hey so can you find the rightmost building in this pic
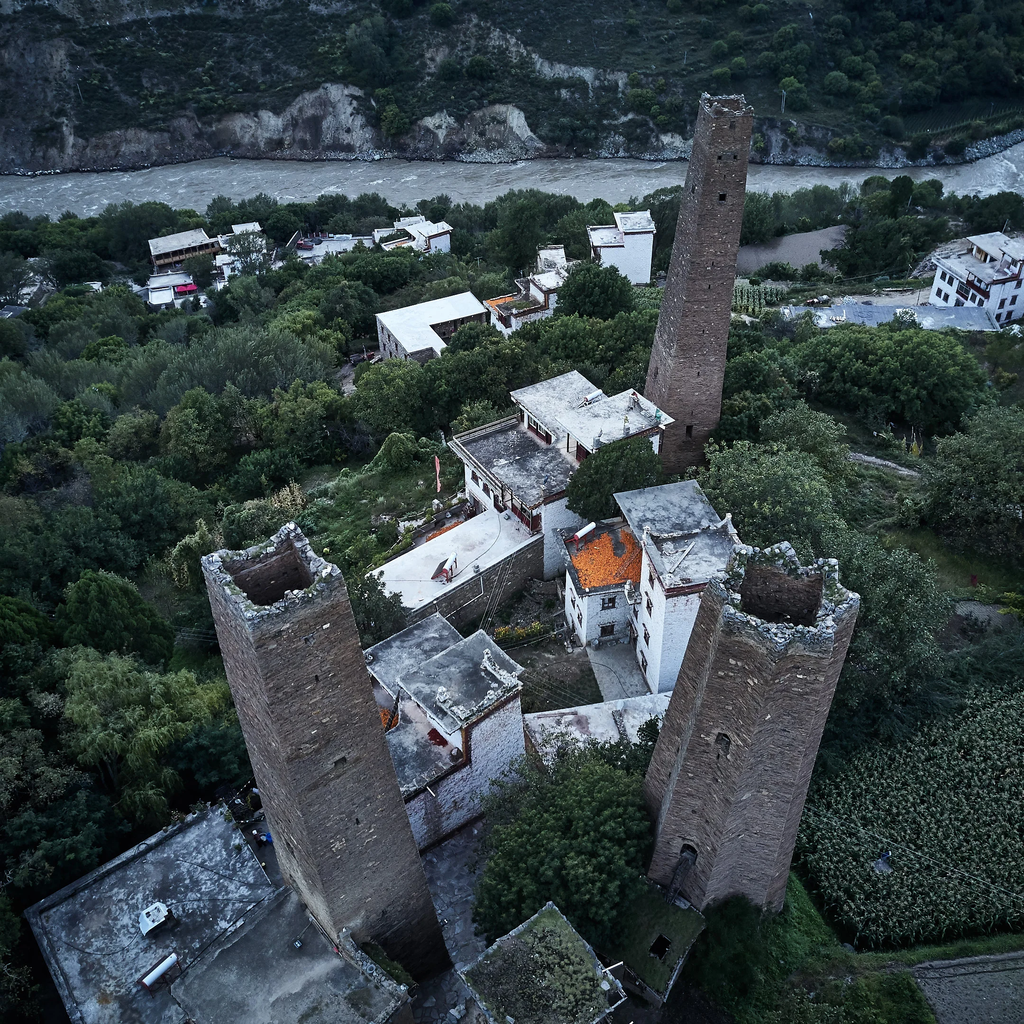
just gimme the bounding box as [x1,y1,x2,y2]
[928,219,1024,325]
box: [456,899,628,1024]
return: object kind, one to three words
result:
house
